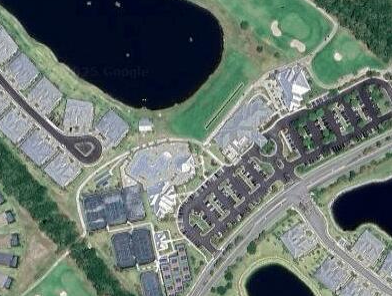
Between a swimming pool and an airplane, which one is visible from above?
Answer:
swimming pool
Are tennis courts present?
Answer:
Yes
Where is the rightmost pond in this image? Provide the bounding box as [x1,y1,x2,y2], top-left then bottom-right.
[330,176,392,235]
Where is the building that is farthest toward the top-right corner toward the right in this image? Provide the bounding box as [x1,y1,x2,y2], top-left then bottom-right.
[277,66,310,110]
